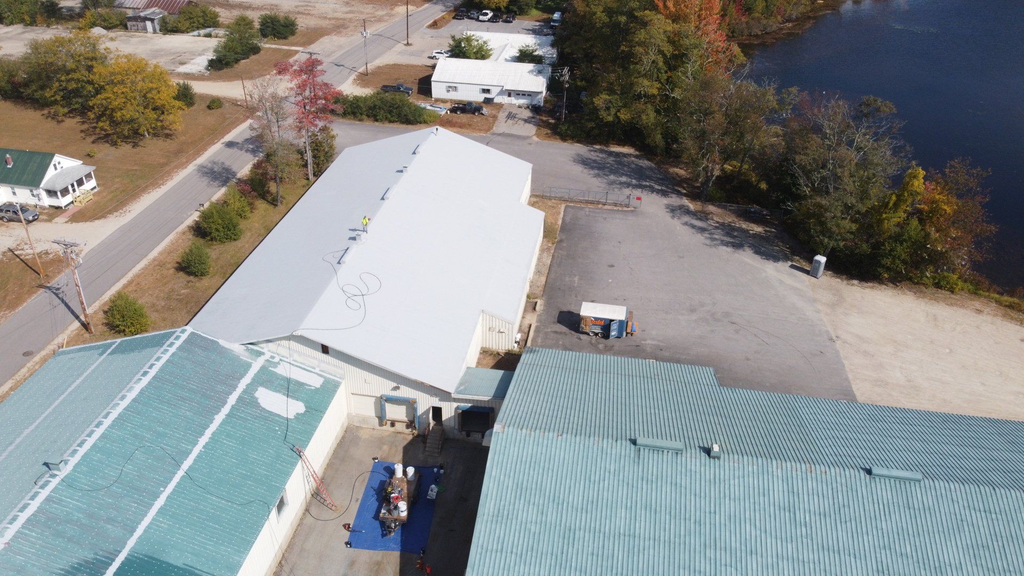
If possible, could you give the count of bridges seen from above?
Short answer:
0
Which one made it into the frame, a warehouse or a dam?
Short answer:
warehouse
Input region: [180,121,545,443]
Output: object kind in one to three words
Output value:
warehouse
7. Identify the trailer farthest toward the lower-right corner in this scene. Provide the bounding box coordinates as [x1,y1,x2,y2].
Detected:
[579,302,635,340]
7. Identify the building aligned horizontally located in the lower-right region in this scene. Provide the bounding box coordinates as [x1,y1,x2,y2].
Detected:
[468,347,1024,576]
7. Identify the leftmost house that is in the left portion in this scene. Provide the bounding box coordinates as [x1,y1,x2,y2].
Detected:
[0,148,99,213]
